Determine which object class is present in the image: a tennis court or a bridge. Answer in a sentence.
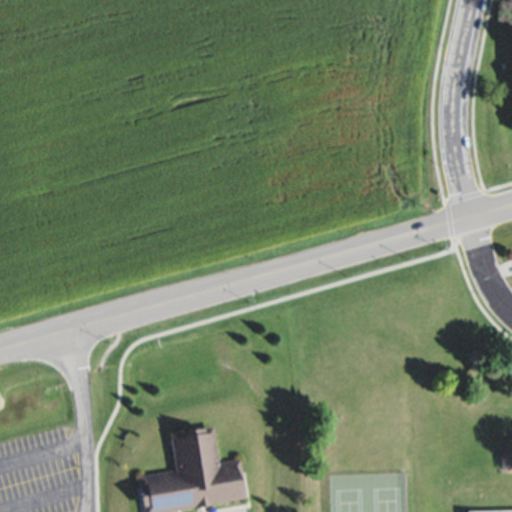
There is a tennis court in the scene.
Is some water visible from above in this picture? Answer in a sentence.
No, the picture contains no water.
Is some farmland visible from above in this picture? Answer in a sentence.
Yes, there is farmland in the image.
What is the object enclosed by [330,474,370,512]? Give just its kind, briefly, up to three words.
tennis court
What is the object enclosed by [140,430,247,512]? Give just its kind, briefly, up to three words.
building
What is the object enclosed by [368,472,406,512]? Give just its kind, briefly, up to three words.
tennis court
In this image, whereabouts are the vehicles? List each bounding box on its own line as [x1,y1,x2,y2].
[412,222,424,228]
[464,136,470,148]
[463,87,470,99]
[480,0,487,12]
[475,18,482,30]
